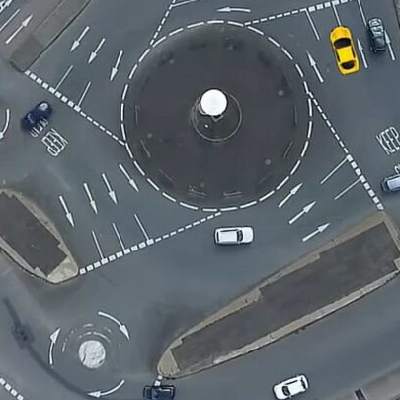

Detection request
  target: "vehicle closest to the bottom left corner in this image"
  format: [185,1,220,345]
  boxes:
[143,382,176,400]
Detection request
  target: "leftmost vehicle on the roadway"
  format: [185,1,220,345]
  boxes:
[22,101,54,131]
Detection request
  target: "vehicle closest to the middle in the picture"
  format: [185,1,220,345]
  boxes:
[214,226,254,244]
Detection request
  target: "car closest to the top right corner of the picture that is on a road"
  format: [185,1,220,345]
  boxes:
[366,19,388,55]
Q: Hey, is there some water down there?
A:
No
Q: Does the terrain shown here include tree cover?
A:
No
